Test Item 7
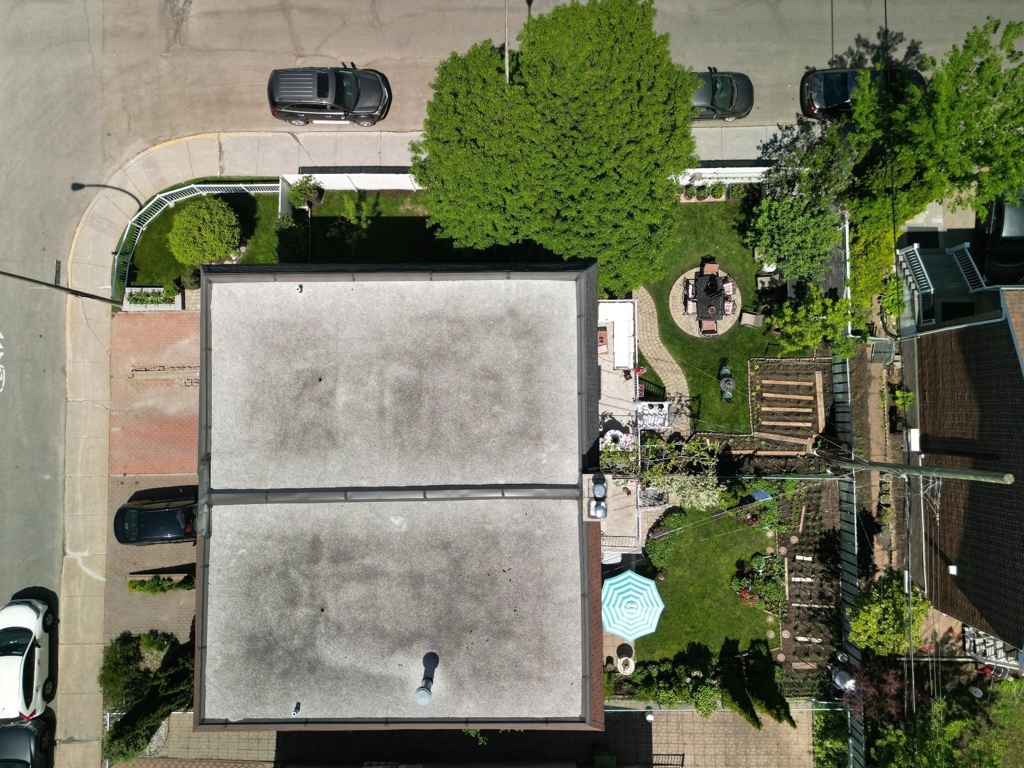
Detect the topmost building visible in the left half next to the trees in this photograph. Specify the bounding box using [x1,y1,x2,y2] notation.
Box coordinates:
[197,261,600,534]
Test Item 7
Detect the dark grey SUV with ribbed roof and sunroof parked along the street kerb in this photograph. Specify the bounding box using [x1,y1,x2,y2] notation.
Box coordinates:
[263,59,390,125]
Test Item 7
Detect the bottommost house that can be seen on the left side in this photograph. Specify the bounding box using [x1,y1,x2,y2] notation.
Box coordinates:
[193,441,607,731]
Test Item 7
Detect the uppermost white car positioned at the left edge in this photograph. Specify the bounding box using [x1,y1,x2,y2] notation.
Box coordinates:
[0,593,54,717]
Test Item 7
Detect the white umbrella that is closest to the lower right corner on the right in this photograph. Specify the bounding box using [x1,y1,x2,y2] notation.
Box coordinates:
[603,567,665,639]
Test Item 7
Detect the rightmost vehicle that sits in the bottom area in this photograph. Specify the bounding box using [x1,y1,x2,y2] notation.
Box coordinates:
[113,488,197,548]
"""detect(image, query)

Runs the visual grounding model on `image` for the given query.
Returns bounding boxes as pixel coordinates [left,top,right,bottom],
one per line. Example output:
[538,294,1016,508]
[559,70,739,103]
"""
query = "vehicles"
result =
[0,593,54,717]
[0,715,54,768]
[668,61,756,121]
[113,488,197,548]
[263,59,390,125]
[796,56,925,119]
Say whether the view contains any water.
No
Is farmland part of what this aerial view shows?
No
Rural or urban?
urban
